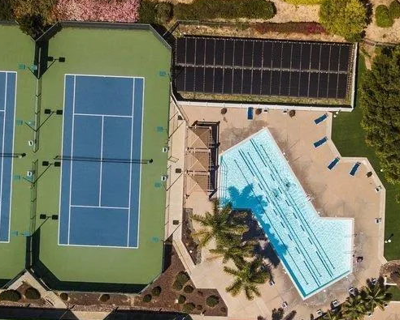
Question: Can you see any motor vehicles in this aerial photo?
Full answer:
No, I can see no motor vehicle in this picture.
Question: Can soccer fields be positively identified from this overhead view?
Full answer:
No, there's no soccer field here.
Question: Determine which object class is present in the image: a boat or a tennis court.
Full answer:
The one in the frame is a tennis court.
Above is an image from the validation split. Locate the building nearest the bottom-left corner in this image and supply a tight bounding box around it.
[183,125,213,197]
